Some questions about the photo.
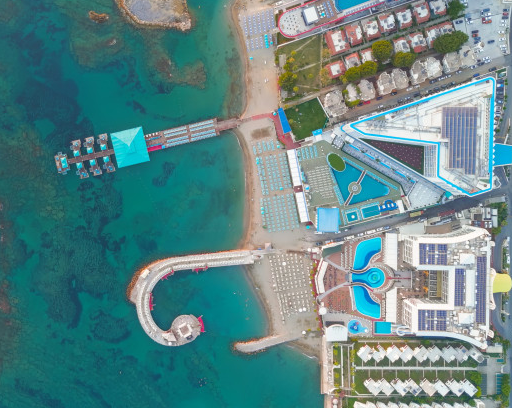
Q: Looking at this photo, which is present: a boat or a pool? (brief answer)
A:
pool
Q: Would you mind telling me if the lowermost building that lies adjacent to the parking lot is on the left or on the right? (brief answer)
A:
right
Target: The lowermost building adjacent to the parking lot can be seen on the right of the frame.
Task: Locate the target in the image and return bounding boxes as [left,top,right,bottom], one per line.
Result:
[331,76,512,210]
